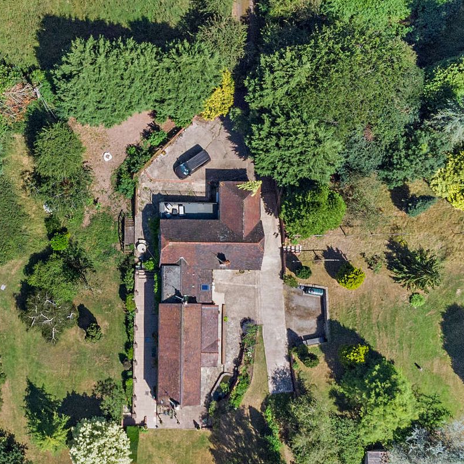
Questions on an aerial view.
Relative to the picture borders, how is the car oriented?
diagonally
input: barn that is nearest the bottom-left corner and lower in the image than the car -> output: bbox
[157,292,219,413]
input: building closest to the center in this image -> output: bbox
[159,182,265,304]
